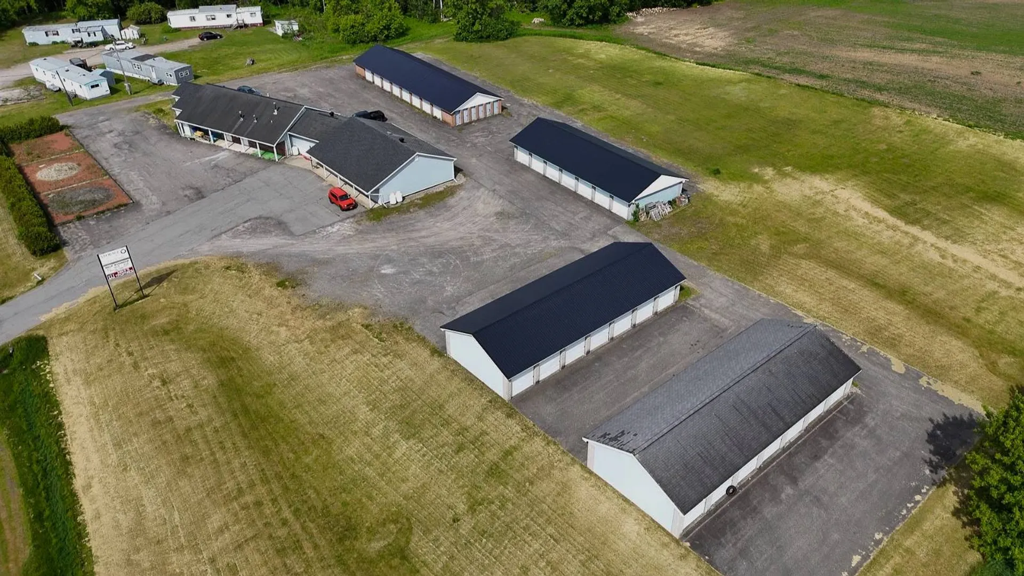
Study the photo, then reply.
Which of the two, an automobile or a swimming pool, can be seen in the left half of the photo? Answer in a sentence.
It is an automobile that can be seen in the left half of the photo.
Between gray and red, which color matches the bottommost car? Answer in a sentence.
The bottommost car is red.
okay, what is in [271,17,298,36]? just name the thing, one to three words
shed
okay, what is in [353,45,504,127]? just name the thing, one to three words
building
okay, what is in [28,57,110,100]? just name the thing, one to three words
house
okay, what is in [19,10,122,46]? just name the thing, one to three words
house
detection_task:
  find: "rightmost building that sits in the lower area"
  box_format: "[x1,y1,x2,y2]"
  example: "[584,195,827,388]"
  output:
[583,319,862,538]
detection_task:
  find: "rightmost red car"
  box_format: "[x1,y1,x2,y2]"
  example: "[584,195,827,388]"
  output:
[326,185,358,211]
